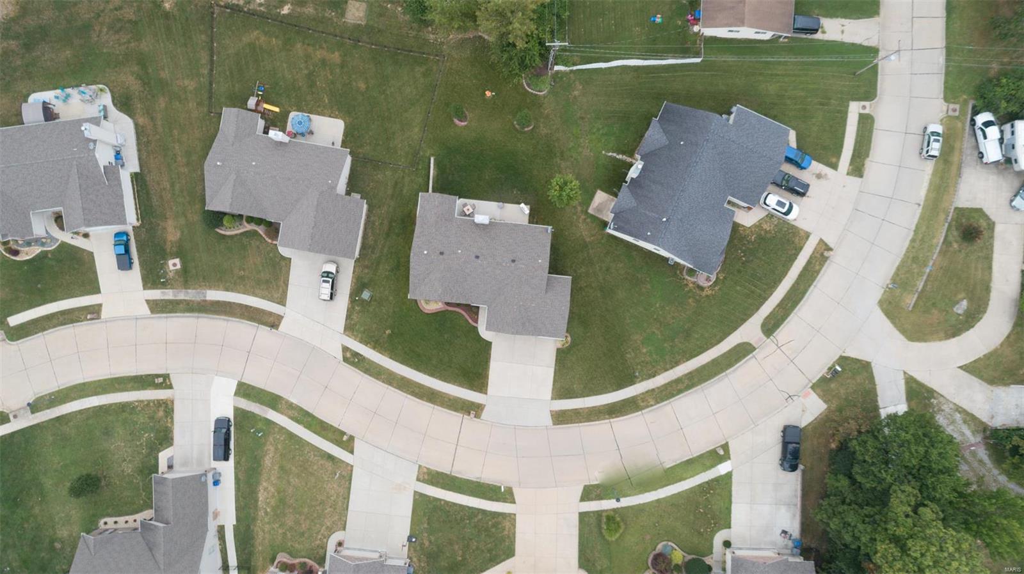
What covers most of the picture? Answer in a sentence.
The bulk of the photo consists of grass.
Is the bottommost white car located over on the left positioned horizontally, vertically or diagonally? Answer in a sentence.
The bottommost white car located over on the left is oriented vertically.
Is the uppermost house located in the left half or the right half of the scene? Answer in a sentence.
It is on the right.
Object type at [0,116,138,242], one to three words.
house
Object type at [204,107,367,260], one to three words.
house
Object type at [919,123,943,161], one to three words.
car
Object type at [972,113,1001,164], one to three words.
truck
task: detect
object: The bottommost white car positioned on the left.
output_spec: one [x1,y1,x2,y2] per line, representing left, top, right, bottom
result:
[318,262,339,302]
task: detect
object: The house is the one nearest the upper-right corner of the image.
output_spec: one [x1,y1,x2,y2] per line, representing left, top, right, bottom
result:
[698,0,793,42]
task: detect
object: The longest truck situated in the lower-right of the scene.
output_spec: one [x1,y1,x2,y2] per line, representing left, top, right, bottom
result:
[780,424,801,471]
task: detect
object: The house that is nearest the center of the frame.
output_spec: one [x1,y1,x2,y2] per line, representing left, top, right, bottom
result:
[409,191,572,340]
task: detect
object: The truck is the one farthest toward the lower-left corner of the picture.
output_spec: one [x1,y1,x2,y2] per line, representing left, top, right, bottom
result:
[212,417,233,461]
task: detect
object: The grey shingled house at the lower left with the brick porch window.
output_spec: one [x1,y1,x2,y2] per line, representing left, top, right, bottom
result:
[68,468,215,574]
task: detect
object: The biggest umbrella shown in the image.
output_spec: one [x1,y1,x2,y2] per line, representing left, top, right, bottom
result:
[290,113,311,134]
